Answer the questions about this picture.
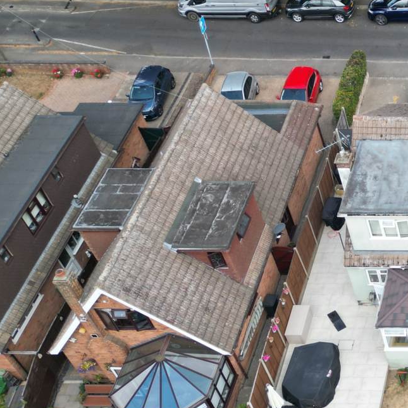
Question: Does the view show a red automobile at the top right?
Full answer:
Yes, there is a red automobile at the top right.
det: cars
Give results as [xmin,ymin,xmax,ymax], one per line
[216,71,262,106]
[273,69,323,106]
[286,0,362,21]
[122,65,185,128]
[369,0,408,24]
